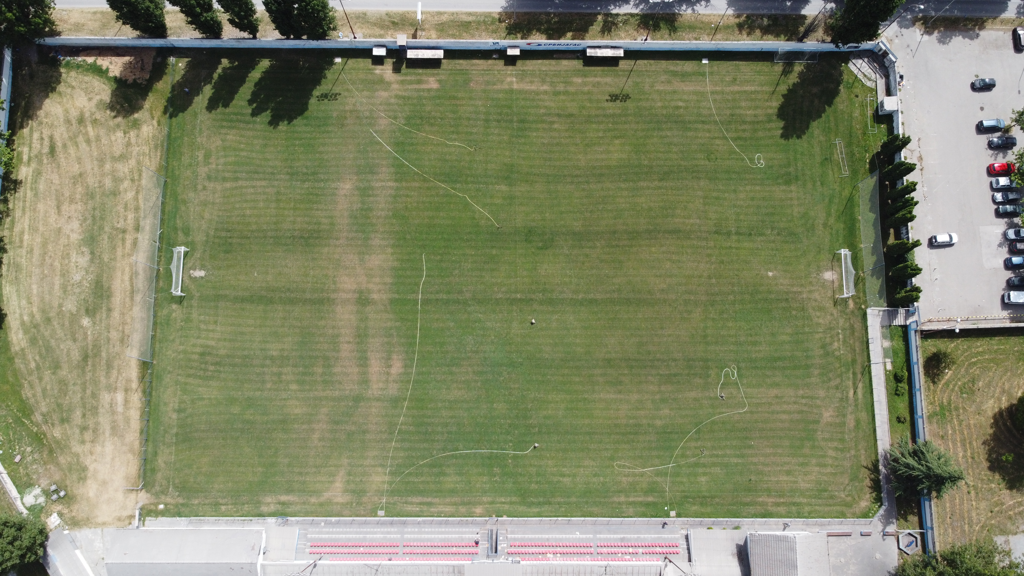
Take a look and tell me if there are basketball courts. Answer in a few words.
No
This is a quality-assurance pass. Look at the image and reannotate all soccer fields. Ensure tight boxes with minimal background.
[137,49,891,518]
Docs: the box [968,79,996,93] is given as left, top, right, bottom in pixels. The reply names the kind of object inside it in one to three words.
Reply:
car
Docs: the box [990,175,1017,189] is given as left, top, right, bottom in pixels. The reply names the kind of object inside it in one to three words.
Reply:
car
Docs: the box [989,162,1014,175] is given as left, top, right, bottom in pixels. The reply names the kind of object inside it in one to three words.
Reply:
vehicle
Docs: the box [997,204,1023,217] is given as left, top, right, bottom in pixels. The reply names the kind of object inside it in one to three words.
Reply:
vehicle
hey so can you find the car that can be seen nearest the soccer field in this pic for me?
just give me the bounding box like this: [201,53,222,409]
[929,232,958,246]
